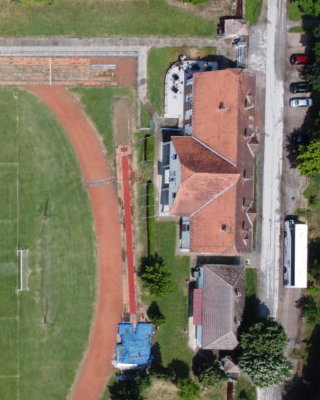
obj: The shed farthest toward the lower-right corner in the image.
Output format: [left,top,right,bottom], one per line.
[214,355,240,376]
